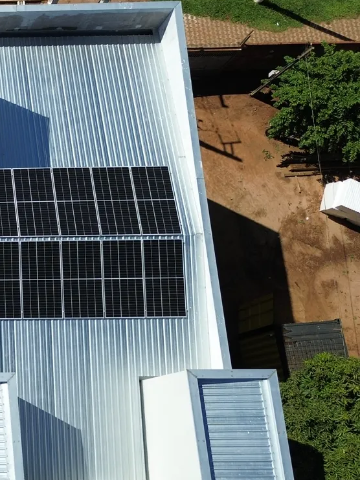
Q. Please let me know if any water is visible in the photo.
No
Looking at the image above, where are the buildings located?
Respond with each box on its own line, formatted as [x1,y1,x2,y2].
[0,2,293,480]
[312,180,360,230]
